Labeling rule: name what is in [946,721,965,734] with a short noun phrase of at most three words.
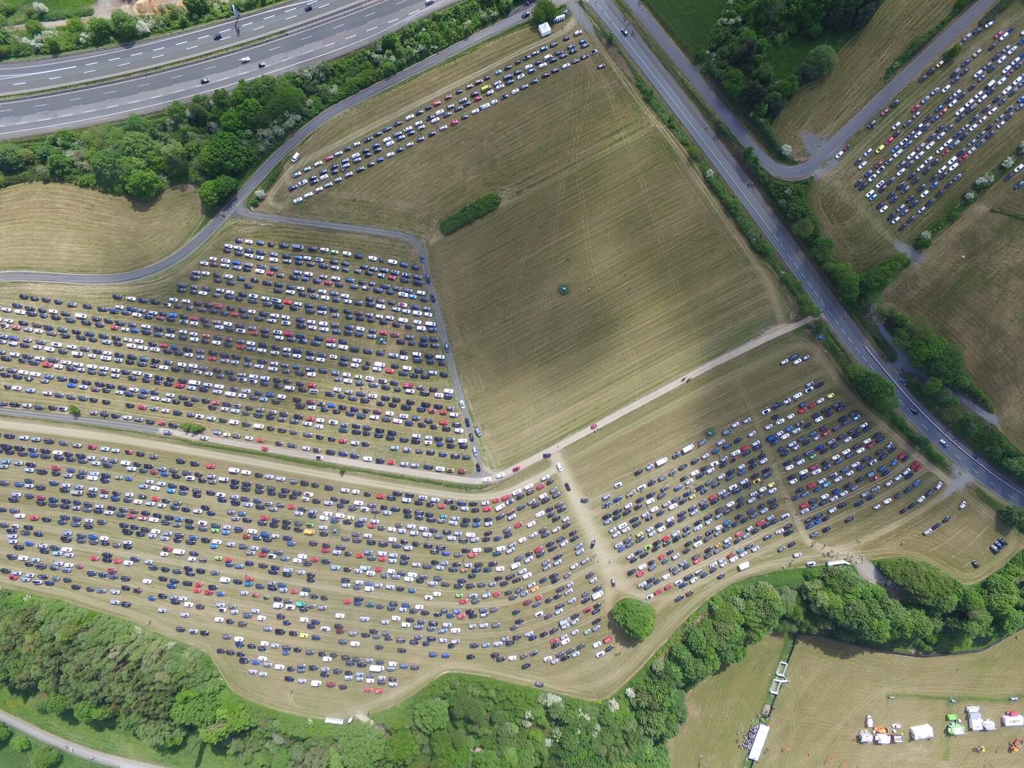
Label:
gazebo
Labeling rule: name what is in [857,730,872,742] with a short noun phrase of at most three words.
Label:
gazebo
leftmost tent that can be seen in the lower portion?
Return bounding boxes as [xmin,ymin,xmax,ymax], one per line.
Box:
[748,722,769,760]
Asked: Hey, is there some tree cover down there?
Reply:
Yes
